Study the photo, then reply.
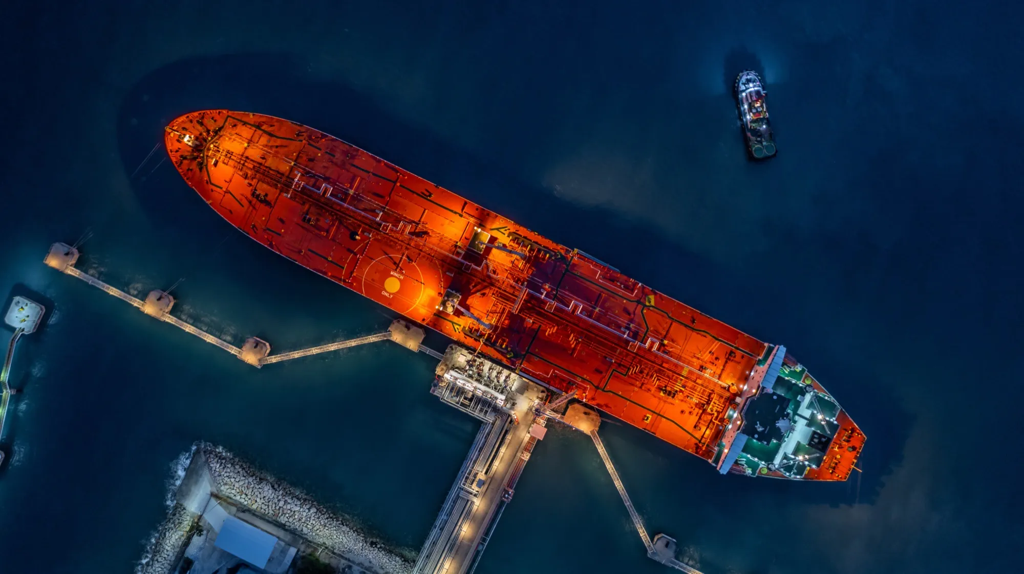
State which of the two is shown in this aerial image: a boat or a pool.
boat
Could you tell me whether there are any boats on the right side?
Yes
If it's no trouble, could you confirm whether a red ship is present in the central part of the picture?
Yes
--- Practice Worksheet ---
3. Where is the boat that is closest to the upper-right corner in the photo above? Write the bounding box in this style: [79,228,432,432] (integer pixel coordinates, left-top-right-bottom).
[737,69,776,160]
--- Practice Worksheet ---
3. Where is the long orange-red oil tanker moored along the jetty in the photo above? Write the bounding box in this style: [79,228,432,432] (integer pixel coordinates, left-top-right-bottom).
[163,109,867,483]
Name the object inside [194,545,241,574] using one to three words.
shed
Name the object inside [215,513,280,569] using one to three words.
shed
